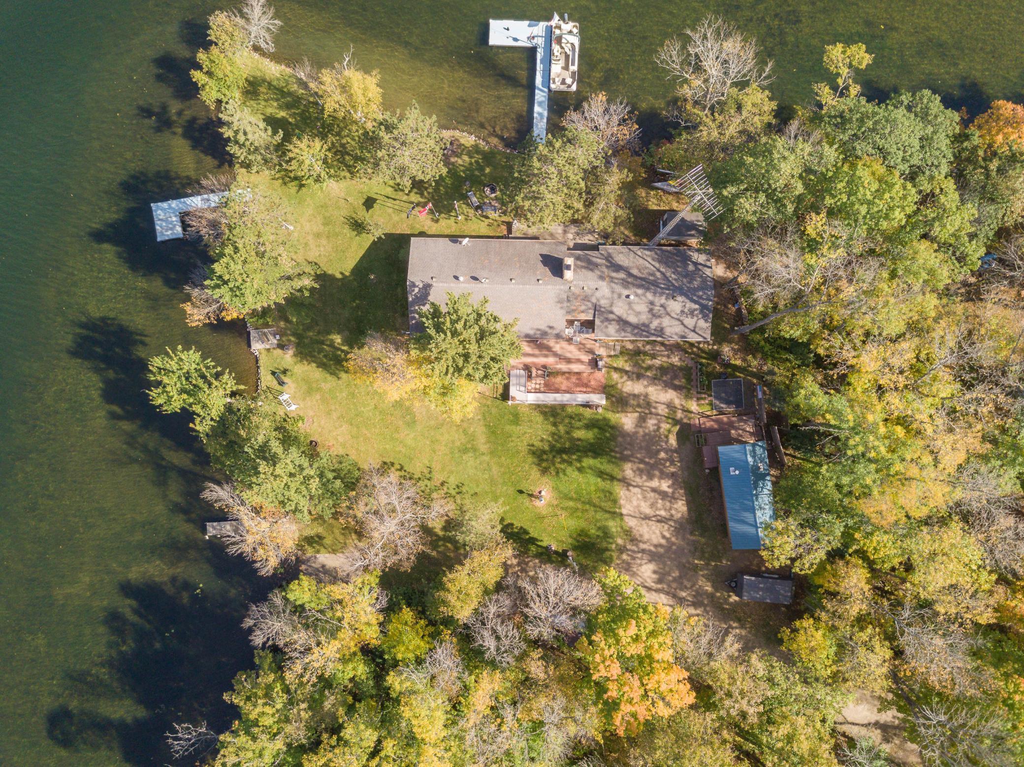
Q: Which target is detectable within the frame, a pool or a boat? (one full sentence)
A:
Of the two, only a boat appears.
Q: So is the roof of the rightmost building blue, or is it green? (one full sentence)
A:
The roof of the rightmost building is blue.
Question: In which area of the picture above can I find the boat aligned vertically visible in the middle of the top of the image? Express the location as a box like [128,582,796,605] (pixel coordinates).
[549,11,580,94]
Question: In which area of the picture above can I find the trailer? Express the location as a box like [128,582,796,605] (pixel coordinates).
[725,571,795,606]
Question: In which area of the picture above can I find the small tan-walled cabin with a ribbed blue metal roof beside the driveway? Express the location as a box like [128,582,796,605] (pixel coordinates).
[716,440,780,550]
